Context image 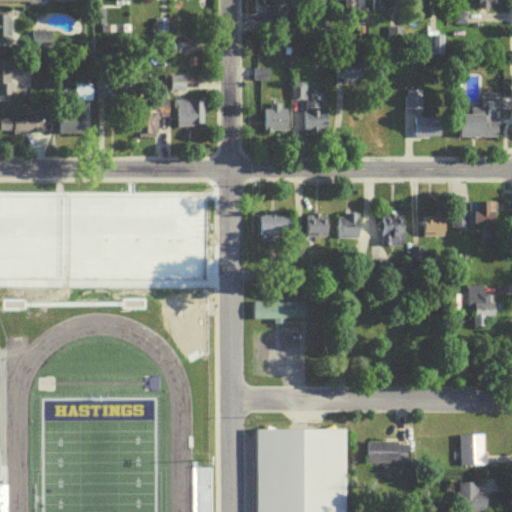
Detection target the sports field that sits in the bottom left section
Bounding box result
[30,336,168,512]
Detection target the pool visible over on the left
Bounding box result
[32,13,82,35]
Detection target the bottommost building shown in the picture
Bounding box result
[460,478,500,512]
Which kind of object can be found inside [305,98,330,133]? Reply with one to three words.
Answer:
house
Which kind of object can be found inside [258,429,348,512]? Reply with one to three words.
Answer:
building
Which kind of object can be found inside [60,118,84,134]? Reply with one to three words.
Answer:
house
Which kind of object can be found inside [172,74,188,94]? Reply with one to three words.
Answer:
building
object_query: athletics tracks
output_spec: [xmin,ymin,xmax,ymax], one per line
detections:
[6,313,191,512]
